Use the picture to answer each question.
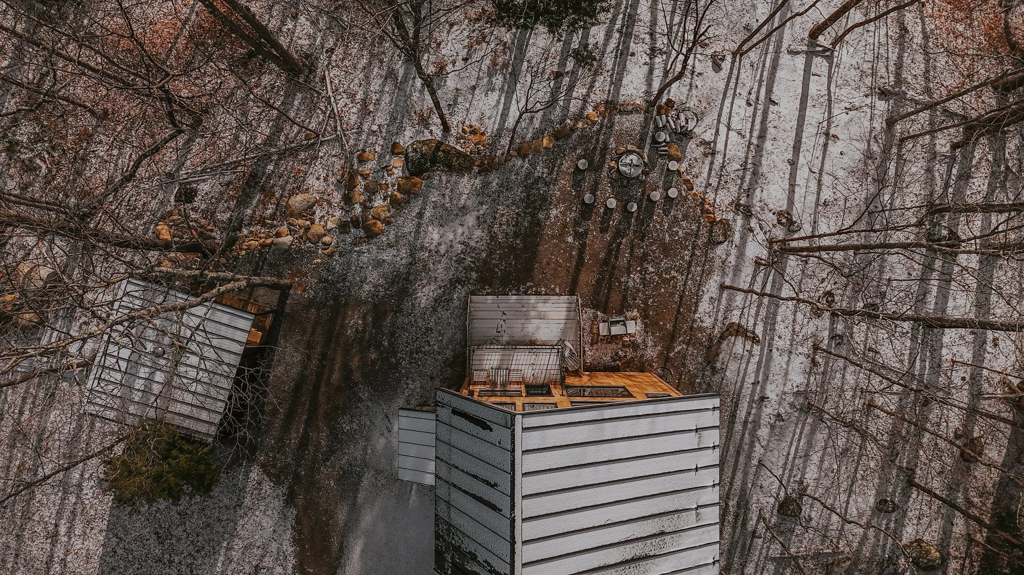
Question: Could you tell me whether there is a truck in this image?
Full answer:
No, the scene contains no truck.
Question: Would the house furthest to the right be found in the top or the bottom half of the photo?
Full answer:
The house furthest to the right sits in the bottom half of the picture.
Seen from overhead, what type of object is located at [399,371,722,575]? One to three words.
house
